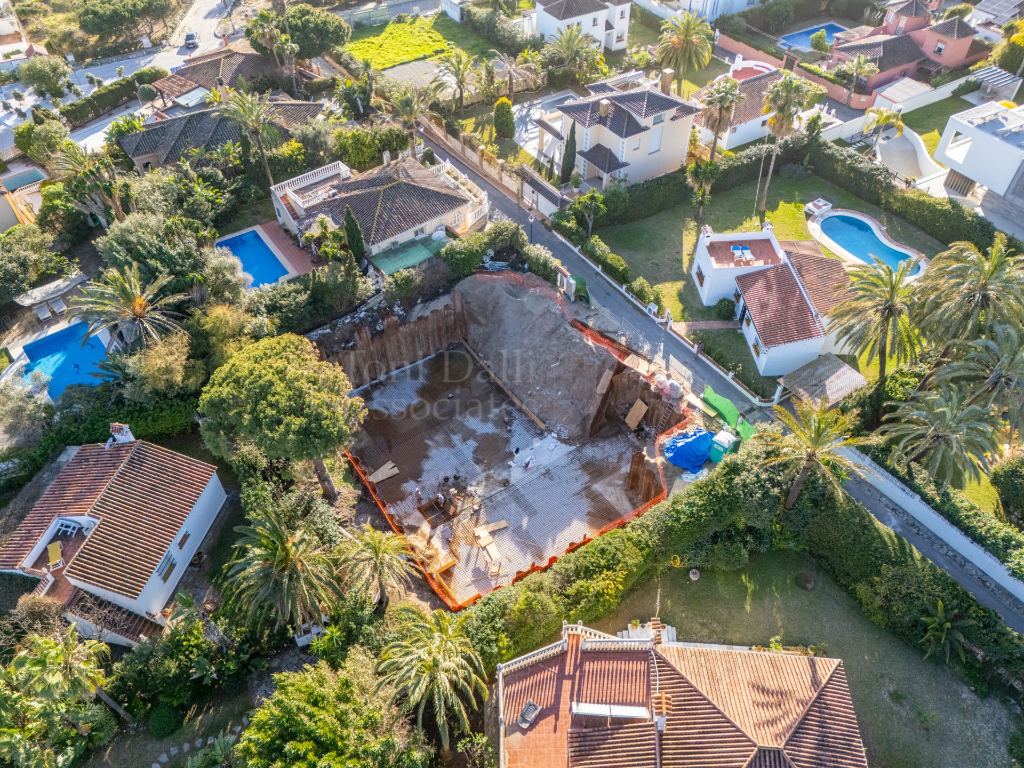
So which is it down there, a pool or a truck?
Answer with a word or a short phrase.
pool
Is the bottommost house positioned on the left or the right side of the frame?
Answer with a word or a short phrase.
right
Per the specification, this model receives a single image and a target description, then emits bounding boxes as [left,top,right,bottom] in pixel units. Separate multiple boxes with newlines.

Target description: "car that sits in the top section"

[183,25,201,46]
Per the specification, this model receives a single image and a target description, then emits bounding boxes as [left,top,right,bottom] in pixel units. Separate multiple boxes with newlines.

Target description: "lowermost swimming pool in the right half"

[807,207,939,287]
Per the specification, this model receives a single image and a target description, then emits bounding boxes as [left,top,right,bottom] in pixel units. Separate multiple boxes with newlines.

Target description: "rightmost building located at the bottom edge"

[493,581,871,768]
